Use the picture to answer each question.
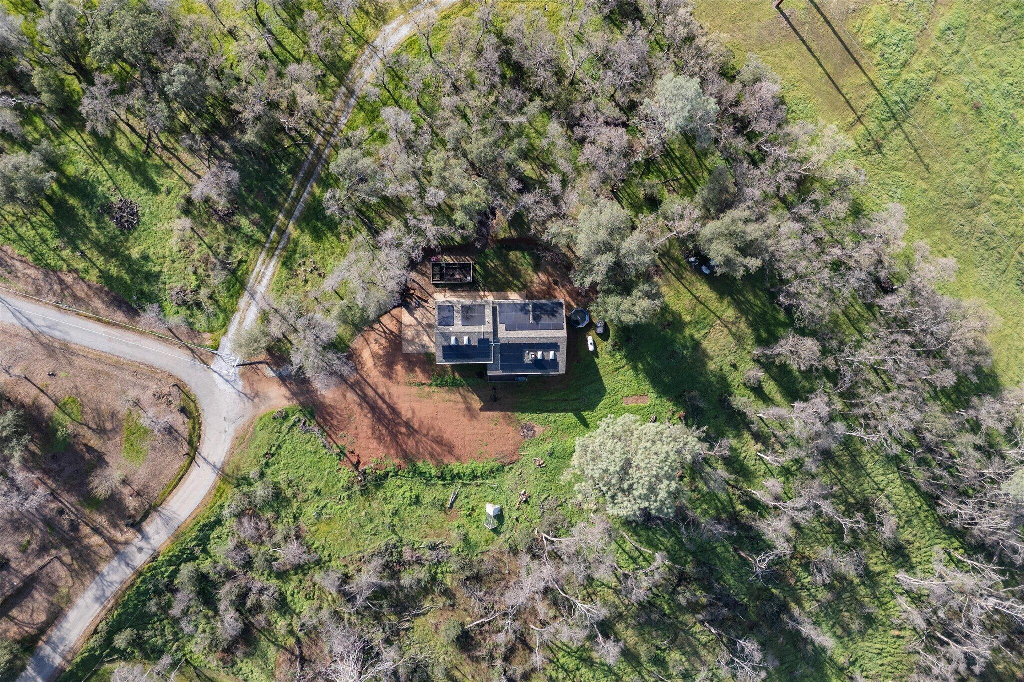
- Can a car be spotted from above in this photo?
No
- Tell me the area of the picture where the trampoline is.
center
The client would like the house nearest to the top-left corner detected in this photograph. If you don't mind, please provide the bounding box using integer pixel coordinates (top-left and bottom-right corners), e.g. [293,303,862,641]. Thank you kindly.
[434,299,567,382]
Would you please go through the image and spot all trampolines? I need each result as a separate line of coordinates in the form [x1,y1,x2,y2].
[570,306,592,328]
